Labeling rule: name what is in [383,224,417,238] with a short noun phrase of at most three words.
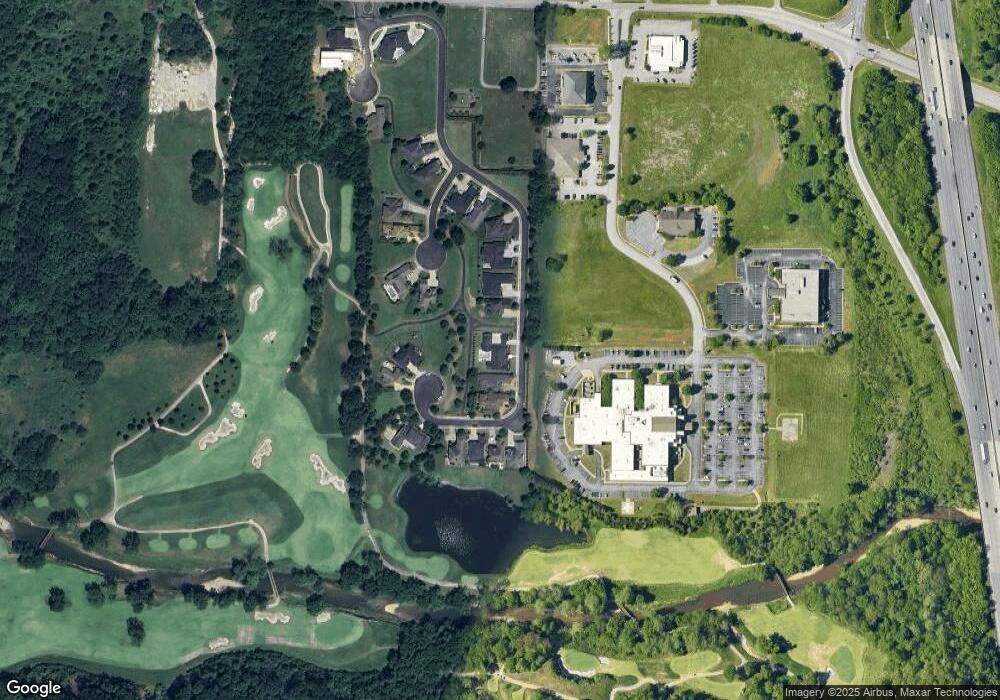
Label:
house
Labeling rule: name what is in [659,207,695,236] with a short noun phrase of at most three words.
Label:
building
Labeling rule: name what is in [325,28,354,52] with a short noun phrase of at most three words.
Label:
house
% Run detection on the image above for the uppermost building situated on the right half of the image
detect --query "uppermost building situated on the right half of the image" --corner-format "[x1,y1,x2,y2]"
[650,35,684,70]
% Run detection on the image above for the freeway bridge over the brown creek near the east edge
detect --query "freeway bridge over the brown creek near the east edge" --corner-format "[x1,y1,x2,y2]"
[978,496,1000,542]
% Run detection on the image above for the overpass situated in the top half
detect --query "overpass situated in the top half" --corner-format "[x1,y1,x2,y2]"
[916,35,969,118]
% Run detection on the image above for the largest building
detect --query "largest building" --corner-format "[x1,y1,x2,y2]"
[570,379,693,481]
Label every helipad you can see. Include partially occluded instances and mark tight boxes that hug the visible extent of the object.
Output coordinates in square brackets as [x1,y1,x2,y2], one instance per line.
[768,413,804,440]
